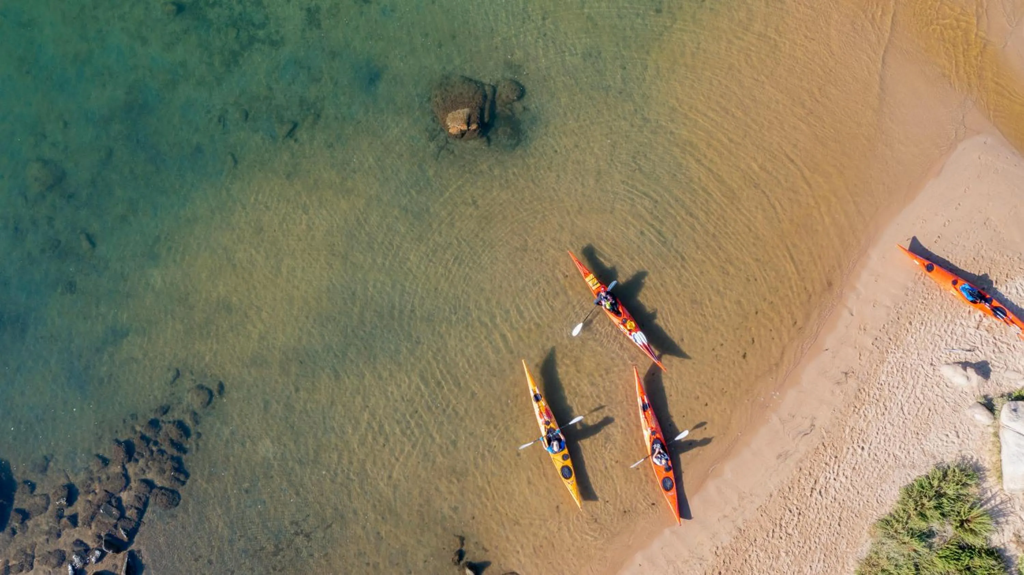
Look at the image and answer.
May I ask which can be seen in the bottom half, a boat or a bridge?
boat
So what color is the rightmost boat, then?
orange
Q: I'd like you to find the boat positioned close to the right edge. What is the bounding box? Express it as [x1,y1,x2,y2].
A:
[892,244,1024,331]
